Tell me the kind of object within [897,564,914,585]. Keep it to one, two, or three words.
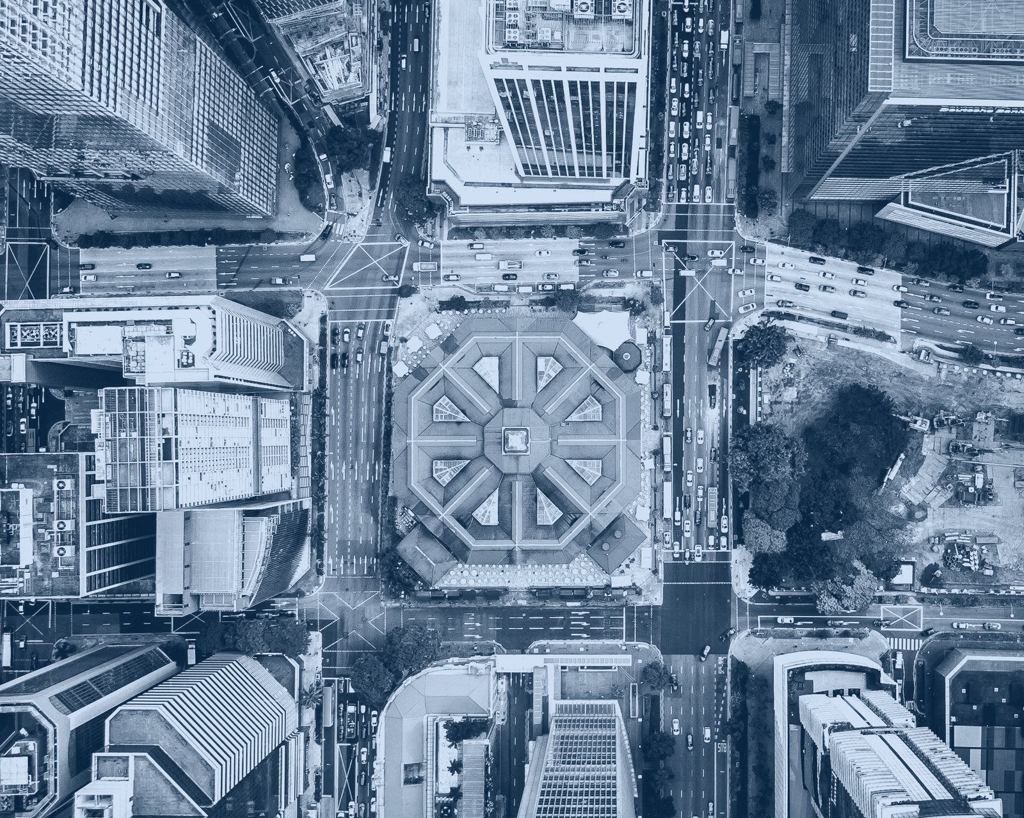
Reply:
shed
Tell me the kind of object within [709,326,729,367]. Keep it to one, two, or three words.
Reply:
bus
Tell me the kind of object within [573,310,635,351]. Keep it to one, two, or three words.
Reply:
tent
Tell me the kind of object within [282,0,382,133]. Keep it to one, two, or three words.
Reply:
building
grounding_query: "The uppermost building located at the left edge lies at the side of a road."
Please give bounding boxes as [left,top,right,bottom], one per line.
[0,0,279,217]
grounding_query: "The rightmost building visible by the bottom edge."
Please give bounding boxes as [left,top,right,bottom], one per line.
[925,643,1024,818]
